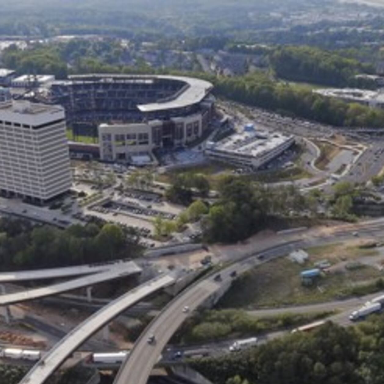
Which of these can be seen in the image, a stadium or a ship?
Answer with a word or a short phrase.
stadium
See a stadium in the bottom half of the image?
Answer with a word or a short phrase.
No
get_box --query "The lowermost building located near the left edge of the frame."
[0,99,75,205]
